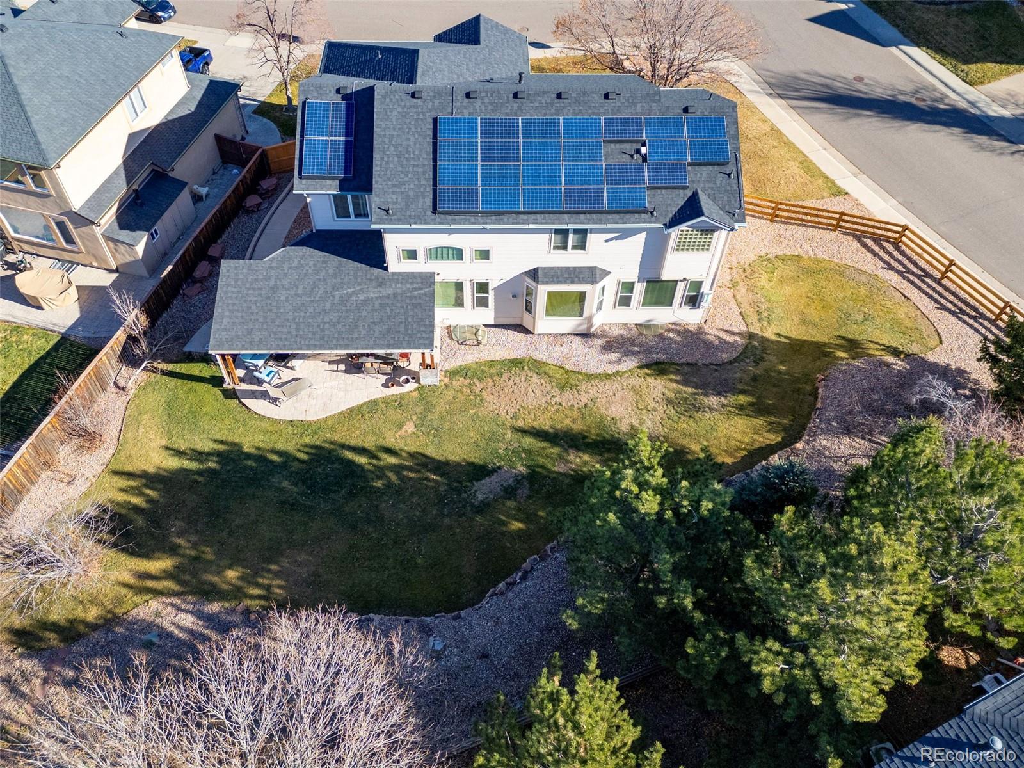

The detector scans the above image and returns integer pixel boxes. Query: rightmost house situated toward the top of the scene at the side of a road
[208,11,748,393]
